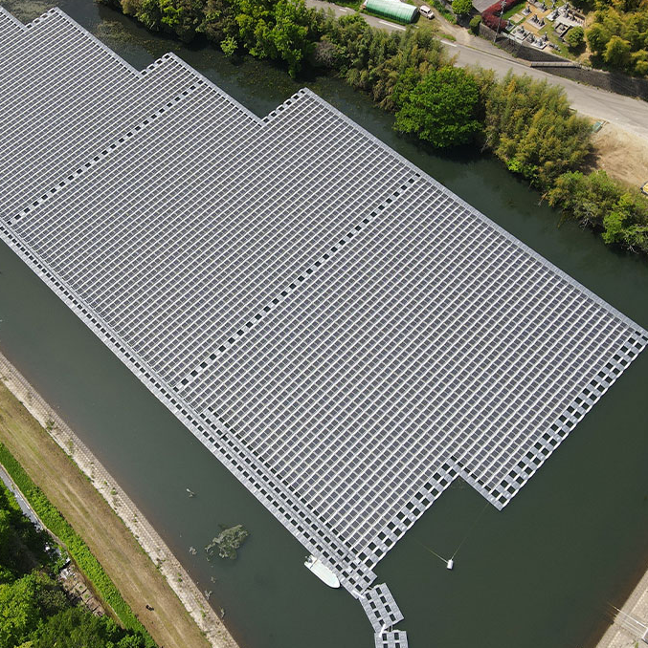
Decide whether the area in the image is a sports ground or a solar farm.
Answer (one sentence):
It's a solar farm.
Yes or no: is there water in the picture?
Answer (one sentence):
Yes, the picture does contain water.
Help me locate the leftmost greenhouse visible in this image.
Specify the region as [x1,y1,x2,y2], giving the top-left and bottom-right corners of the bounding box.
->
[361,0,416,28]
